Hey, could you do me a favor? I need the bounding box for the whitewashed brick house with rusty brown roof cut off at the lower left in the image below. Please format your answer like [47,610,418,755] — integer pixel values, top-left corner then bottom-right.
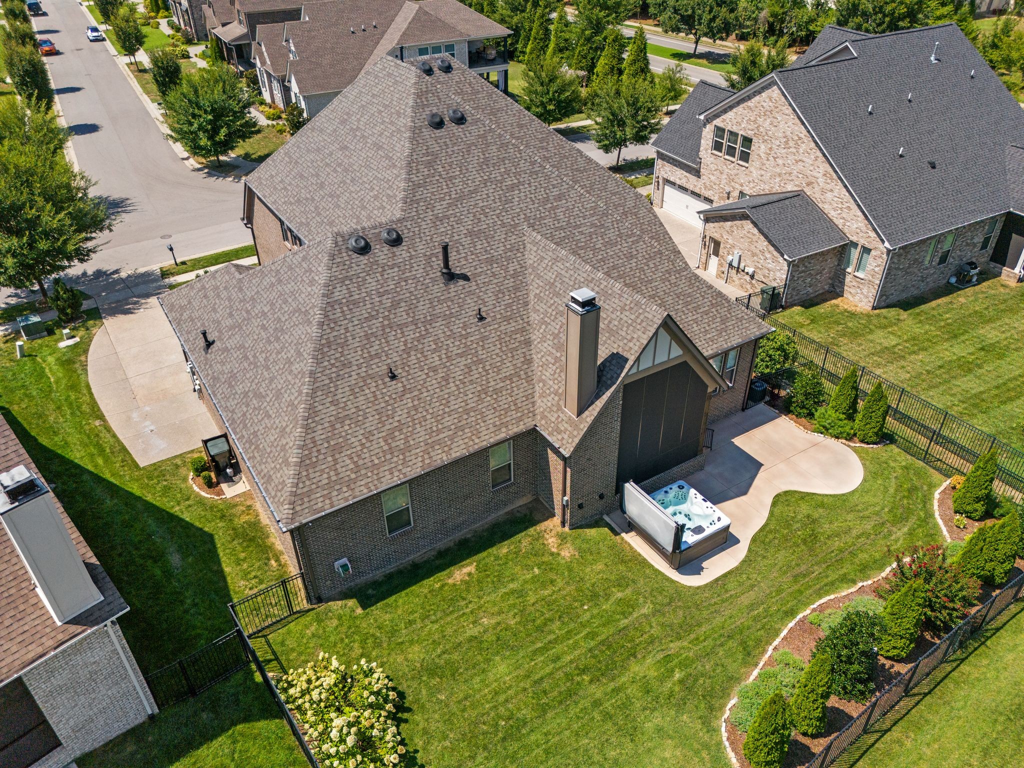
[0,414,158,768]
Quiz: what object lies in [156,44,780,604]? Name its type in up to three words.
house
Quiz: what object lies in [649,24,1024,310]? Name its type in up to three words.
house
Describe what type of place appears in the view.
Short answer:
residential area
